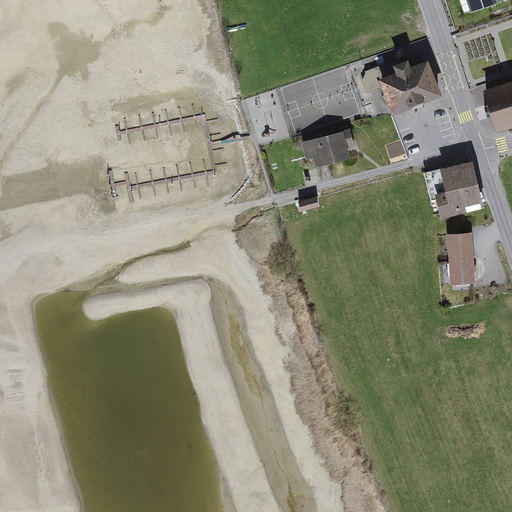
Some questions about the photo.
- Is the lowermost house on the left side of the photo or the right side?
right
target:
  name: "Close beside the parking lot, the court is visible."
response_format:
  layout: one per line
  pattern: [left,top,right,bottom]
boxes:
[276,66,360,137]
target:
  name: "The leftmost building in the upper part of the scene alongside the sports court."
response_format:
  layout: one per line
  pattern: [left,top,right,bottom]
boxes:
[302,129,353,166]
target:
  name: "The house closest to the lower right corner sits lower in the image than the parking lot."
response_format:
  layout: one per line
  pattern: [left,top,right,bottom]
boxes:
[446,233,477,285]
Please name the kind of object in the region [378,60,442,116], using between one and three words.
building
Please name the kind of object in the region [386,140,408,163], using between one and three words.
shed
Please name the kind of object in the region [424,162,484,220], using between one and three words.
building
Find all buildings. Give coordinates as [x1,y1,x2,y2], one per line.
[446,233,477,285]
[460,0,496,14]
[482,82,512,134]
[386,140,408,163]
[298,194,320,214]
[378,60,442,116]
[424,162,484,220]
[302,129,353,166]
